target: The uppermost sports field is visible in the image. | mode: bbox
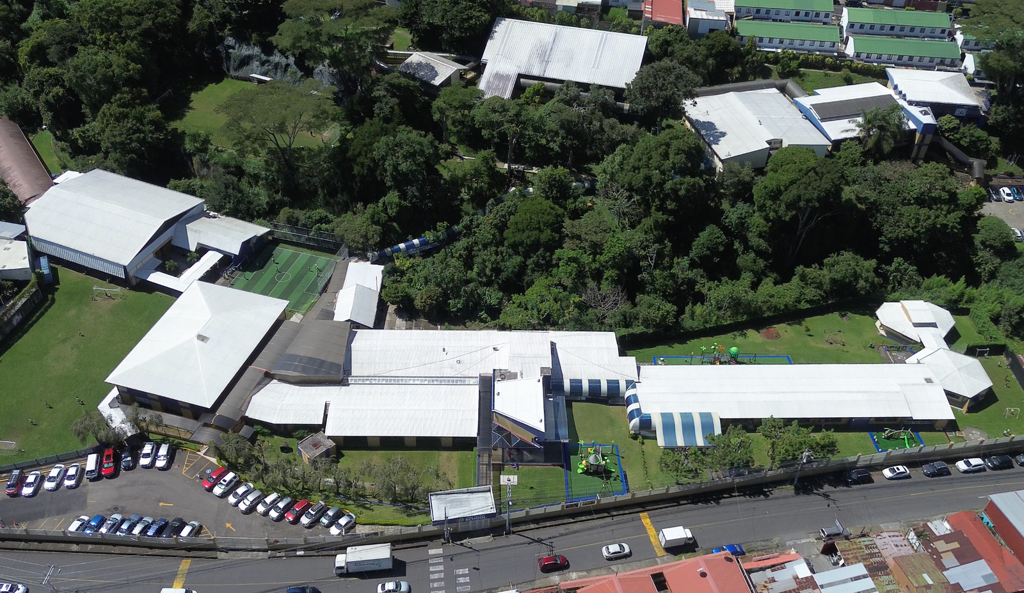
[224,243,339,315]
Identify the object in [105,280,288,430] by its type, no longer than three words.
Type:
building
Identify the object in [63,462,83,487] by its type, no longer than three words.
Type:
car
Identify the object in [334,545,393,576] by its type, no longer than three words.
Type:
truck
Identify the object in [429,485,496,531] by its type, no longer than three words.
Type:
building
